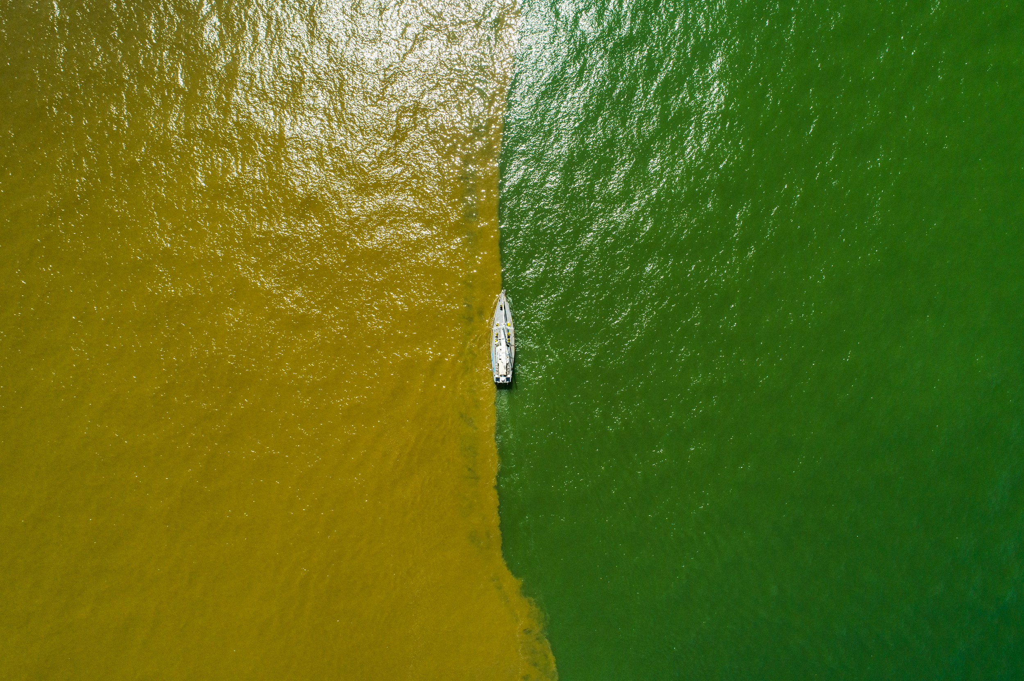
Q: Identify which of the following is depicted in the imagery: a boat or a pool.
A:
boat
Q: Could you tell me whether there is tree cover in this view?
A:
No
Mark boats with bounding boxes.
[490,289,515,385]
